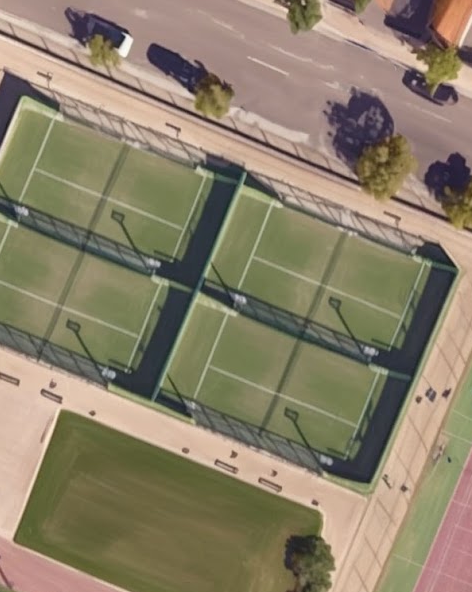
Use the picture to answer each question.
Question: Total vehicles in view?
three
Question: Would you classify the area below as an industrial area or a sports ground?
sports ground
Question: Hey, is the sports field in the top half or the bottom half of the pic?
bottom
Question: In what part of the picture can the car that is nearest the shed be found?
top right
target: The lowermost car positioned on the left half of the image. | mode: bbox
[145,47,203,88]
